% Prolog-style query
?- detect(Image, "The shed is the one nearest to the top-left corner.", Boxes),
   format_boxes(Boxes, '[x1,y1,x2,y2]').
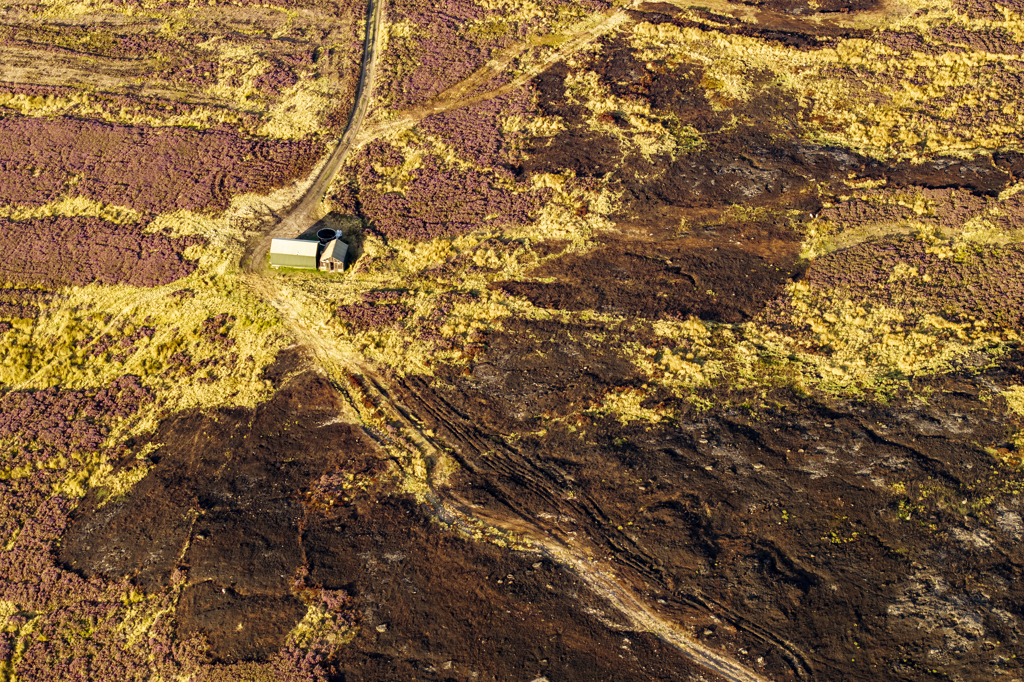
[270,236,321,269]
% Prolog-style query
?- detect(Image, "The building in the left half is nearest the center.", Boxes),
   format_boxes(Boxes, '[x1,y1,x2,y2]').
[319,238,349,272]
